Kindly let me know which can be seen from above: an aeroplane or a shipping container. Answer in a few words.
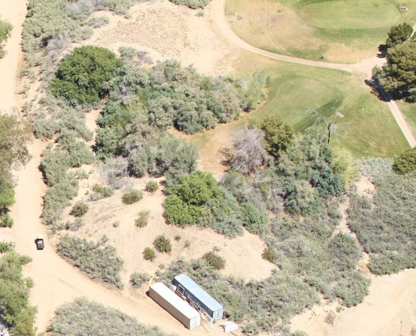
shipping container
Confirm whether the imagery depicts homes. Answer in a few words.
No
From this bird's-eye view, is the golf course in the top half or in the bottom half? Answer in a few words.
top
